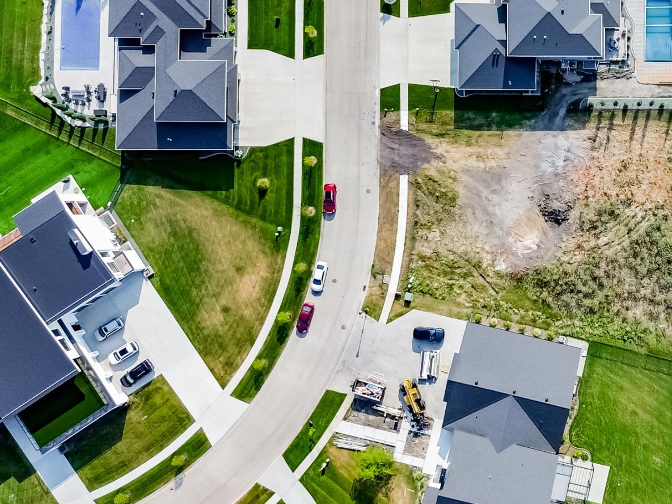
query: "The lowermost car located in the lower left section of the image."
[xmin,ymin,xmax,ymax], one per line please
[123,361,154,384]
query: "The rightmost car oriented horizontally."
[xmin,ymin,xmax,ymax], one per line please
[413,328,445,343]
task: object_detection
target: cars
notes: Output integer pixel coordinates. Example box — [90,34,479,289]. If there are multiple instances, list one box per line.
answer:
[324,183,338,212]
[413,328,445,343]
[123,361,154,384]
[110,341,139,363]
[96,317,126,339]
[297,302,316,332]
[311,261,329,292]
